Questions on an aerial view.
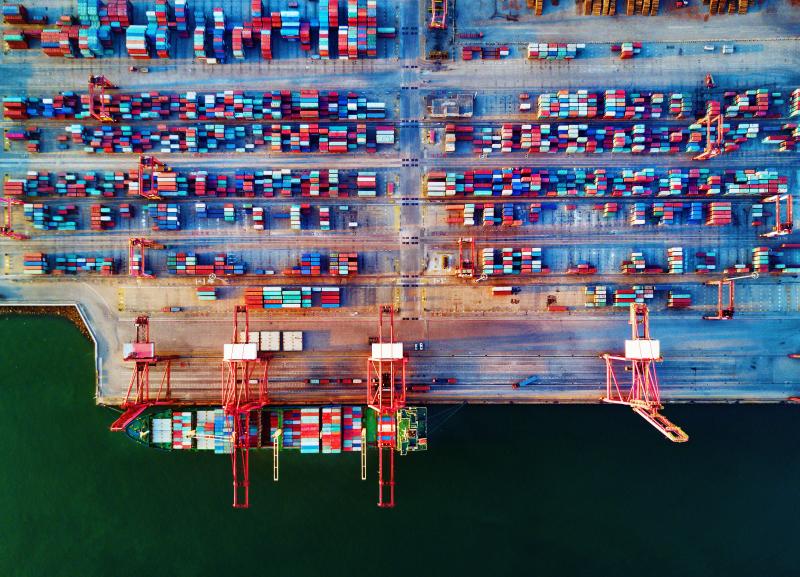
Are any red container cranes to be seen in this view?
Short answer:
Yes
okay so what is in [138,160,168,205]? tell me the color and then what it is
red container crane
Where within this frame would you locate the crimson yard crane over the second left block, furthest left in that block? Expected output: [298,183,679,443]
[89,80,121,128]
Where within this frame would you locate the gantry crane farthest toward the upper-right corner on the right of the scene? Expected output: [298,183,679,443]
[691,116,723,162]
